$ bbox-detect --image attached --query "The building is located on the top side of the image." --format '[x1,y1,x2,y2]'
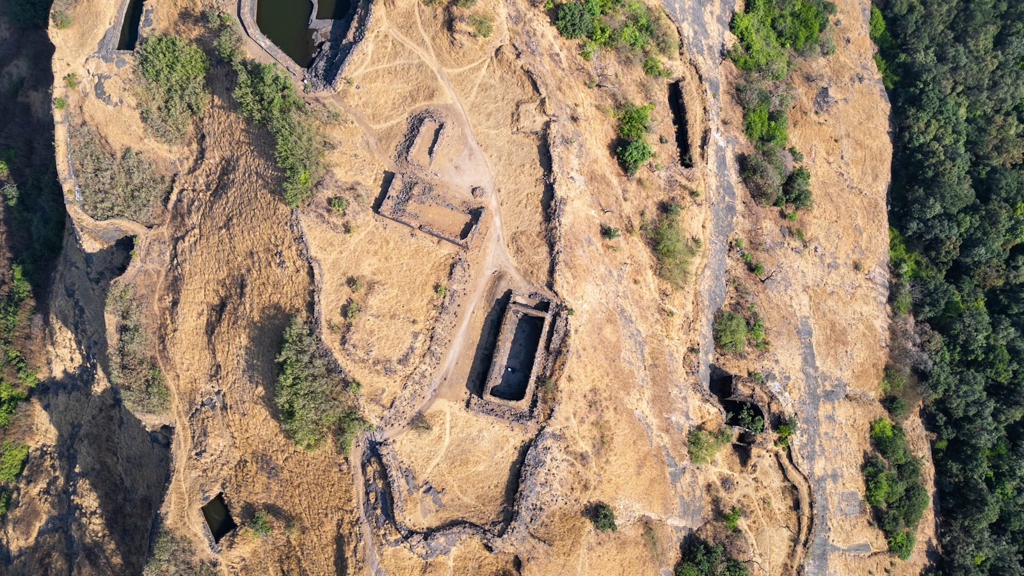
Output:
[378,171,486,251]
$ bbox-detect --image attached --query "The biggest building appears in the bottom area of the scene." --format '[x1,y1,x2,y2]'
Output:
[470,292,566,423]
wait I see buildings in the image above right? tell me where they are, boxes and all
[378,171,486,251]
[470,292,566,423]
